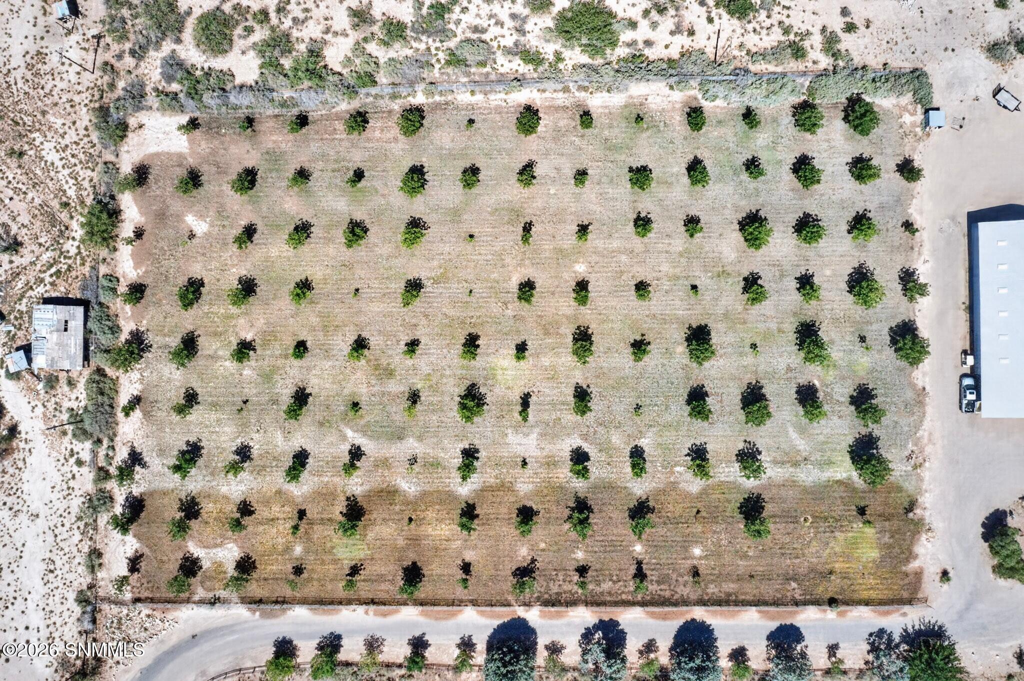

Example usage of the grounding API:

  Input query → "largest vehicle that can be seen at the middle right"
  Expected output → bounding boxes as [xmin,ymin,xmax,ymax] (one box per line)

[958,374,978,414]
